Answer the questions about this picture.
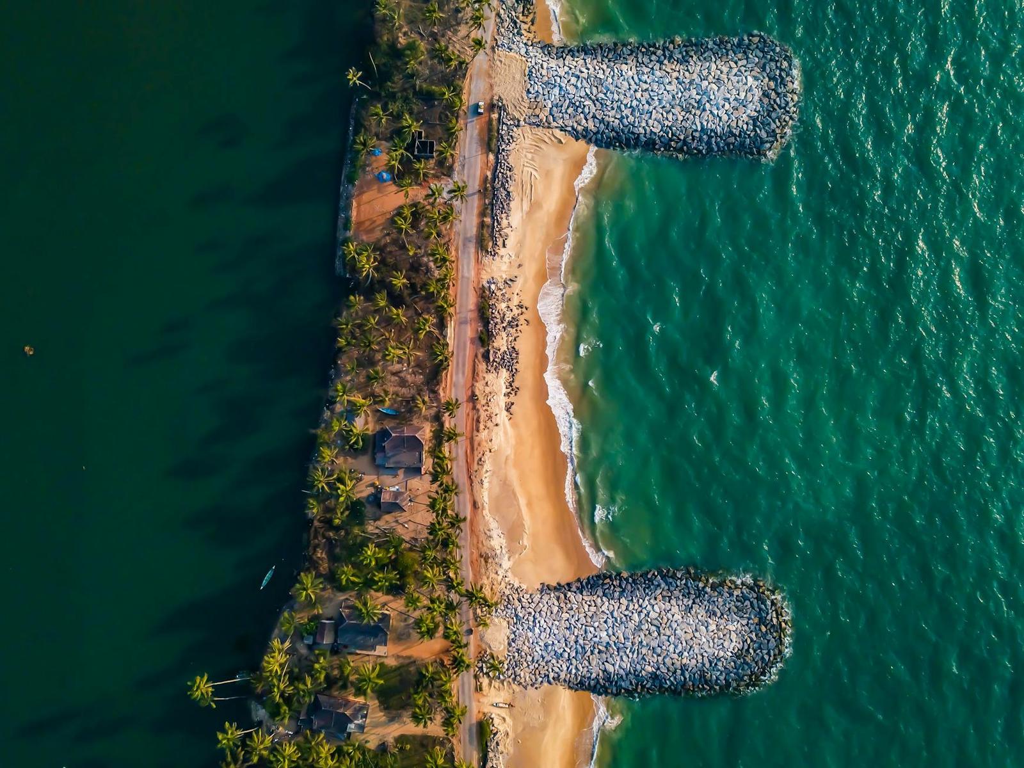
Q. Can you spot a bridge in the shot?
No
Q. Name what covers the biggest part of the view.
water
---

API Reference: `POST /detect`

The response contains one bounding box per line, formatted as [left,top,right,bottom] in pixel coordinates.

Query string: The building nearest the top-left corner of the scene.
[414,129,435,156]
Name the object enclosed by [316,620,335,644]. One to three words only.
shed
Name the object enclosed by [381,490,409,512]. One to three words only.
house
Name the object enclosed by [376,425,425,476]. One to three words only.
house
